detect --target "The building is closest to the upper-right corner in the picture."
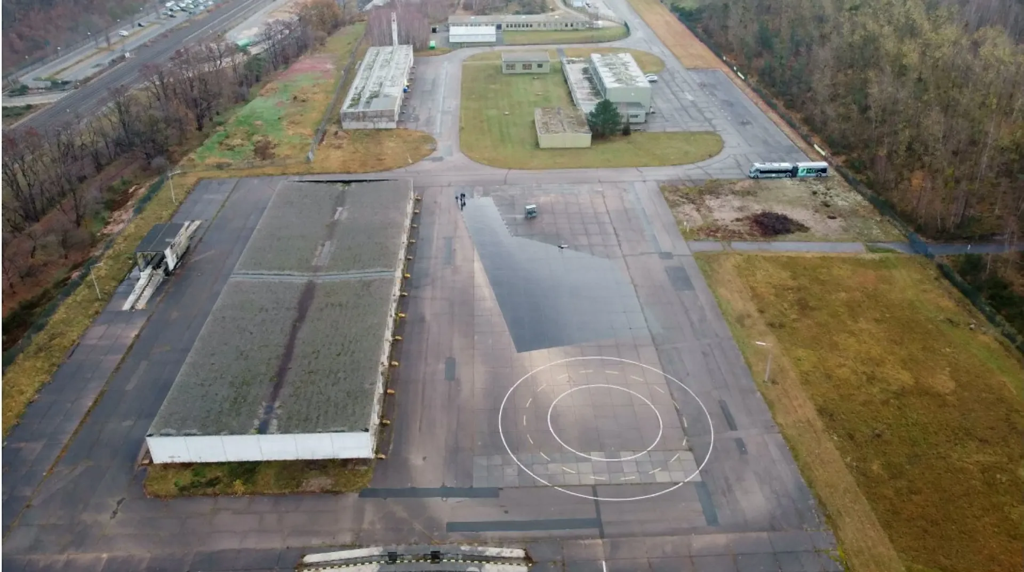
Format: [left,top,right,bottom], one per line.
[562,53,653,121]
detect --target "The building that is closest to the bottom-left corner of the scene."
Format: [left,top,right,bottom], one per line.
[135,177,416,463]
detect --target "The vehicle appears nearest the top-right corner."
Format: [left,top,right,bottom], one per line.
[746,160,830,177]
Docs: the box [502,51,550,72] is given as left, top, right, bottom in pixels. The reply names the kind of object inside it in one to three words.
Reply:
shed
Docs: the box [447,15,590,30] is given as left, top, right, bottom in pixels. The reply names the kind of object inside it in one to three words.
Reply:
building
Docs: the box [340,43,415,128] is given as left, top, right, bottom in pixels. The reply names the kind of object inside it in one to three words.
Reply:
building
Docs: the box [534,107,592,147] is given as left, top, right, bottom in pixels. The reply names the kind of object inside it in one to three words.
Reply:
shed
